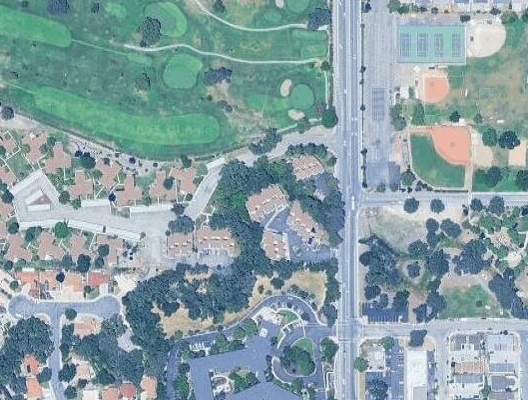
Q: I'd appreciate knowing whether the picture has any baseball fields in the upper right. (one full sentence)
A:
Yes, you'll find a baseball field in the upper right.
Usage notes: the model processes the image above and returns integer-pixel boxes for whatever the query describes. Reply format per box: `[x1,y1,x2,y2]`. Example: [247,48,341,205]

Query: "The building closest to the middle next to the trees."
[246,183,290,220]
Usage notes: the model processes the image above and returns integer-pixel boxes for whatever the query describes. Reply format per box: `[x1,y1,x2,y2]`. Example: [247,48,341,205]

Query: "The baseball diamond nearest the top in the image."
[467,16,507,57]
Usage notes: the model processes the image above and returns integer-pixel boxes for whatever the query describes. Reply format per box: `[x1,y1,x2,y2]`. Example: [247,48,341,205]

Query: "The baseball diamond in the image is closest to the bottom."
[406,124,472,191]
